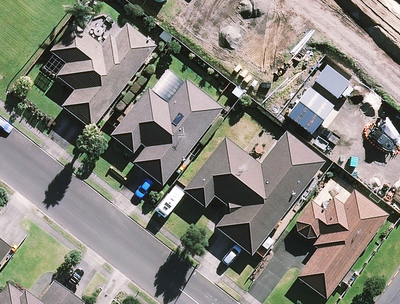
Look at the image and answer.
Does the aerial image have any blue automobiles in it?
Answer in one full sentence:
Yes, the frame does contain a blue automobile.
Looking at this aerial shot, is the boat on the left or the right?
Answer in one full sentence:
The boat appears in the right half of the scene.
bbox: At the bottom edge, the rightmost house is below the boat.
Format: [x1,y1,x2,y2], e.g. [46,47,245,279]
[298,190,390,298]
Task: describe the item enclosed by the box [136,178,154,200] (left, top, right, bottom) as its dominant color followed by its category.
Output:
blue car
